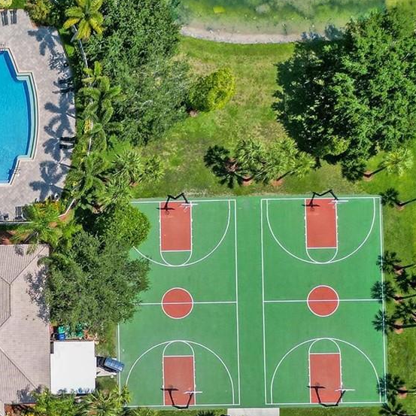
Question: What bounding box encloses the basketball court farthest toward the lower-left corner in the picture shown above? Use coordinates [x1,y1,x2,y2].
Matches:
[110,196,251,409]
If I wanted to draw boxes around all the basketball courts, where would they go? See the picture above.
[247,194,388,408]
[110,196,251,409]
